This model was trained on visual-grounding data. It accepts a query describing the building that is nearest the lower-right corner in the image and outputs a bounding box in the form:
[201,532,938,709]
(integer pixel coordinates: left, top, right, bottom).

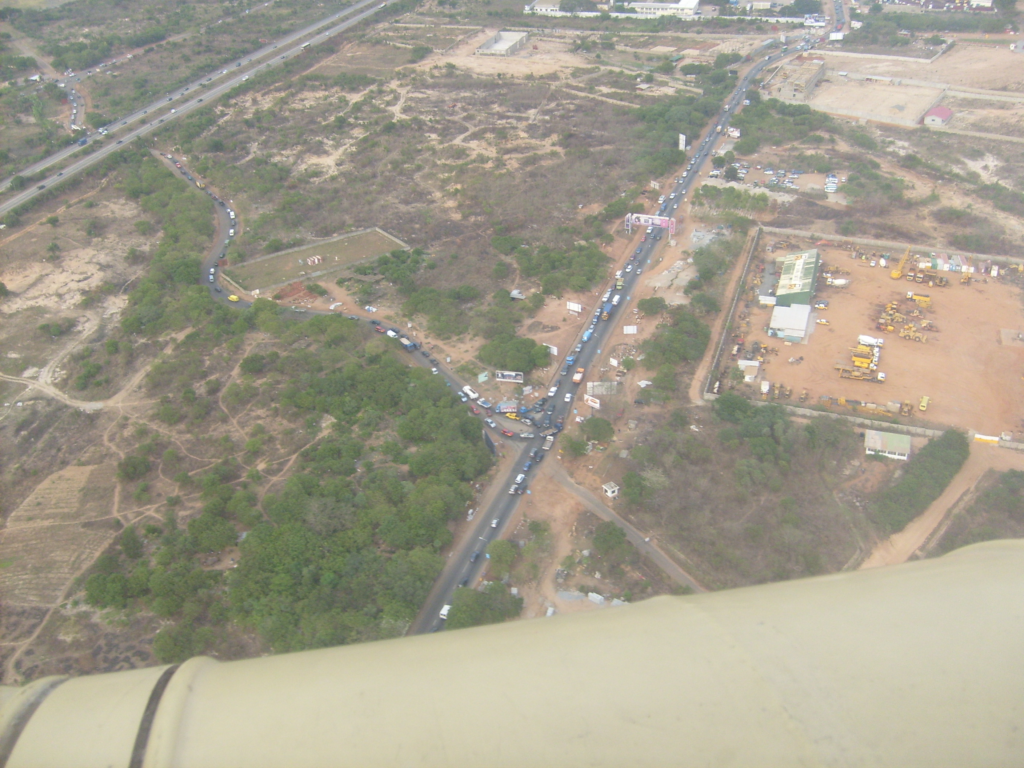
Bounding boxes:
[864,430,911,460]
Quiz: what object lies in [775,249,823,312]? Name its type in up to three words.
building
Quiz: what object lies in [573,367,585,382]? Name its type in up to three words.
vehicle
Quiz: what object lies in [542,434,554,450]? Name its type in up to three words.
vehicle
